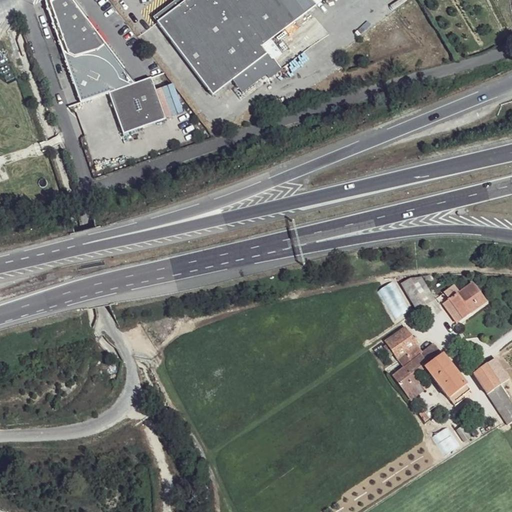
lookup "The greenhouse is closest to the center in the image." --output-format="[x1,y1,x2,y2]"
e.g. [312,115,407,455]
[378,281,409,320]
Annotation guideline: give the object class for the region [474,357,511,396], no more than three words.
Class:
barn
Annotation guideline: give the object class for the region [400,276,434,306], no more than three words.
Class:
shed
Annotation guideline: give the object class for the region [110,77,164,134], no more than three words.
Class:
building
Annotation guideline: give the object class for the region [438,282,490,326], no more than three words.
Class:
house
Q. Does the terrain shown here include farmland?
Yes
